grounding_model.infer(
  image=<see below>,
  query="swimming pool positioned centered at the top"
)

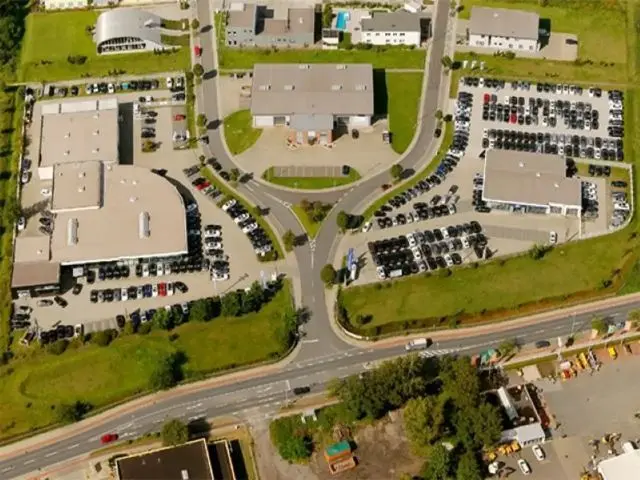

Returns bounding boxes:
[334,10,351,30]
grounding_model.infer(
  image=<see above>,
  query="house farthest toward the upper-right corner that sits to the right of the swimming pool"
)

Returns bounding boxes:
[468,5,541,52]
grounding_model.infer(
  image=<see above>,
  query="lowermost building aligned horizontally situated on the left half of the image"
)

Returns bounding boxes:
[115,437,216,480]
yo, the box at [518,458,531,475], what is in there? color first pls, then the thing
white vehicle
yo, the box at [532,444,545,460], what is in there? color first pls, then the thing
white vehicle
